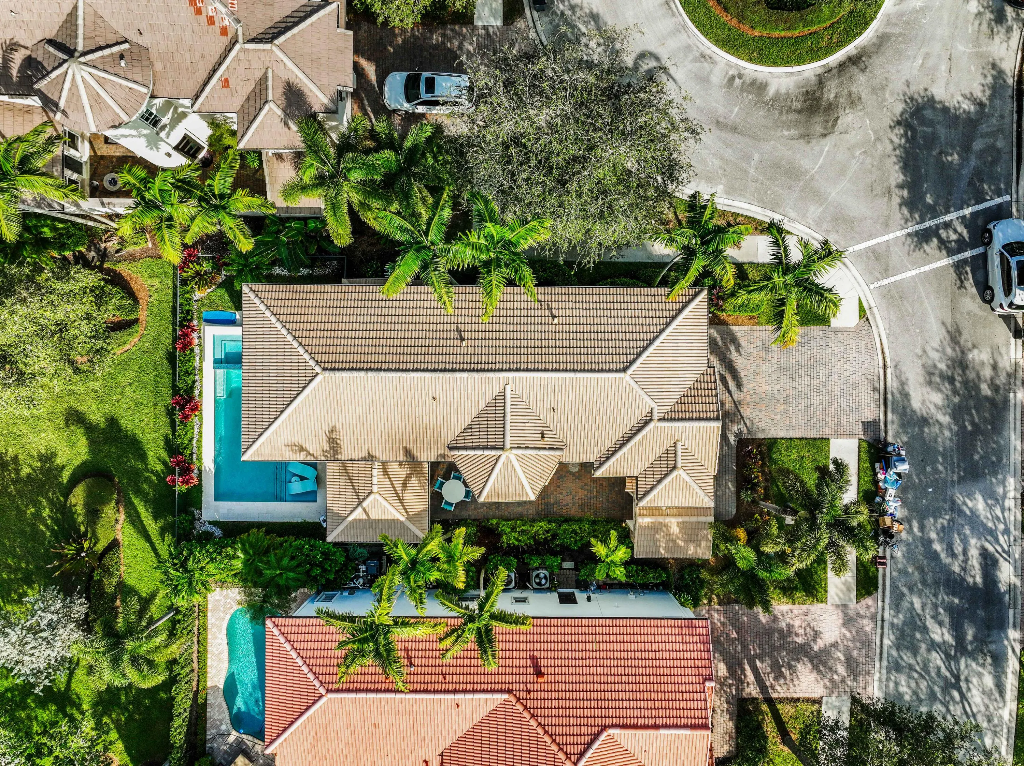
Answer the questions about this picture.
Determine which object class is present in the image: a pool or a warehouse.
pool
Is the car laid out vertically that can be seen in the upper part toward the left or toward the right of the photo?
right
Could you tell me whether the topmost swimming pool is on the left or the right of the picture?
left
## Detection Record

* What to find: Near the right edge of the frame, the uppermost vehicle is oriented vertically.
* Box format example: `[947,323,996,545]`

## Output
[988,223,1024,310]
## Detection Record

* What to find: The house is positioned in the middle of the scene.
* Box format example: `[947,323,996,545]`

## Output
[239,277,722,562]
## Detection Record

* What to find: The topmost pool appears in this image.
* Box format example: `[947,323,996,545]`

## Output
[213,335,317,502]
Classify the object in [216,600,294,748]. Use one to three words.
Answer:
swimming pool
